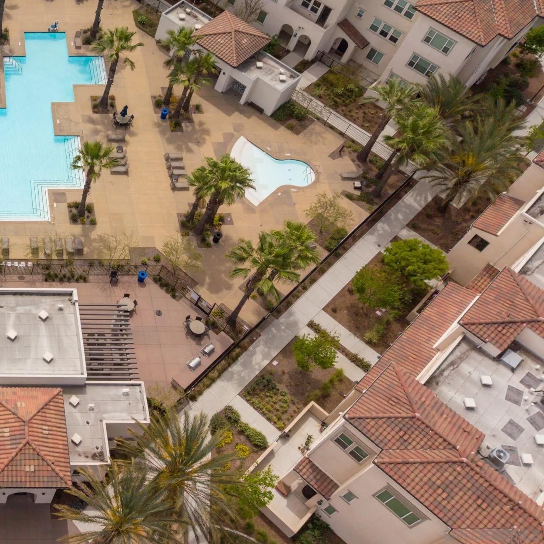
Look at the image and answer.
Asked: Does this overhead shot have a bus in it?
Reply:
No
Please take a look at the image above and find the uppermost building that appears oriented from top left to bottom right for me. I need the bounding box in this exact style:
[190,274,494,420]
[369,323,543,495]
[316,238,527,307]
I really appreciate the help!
[155,0,312,120]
